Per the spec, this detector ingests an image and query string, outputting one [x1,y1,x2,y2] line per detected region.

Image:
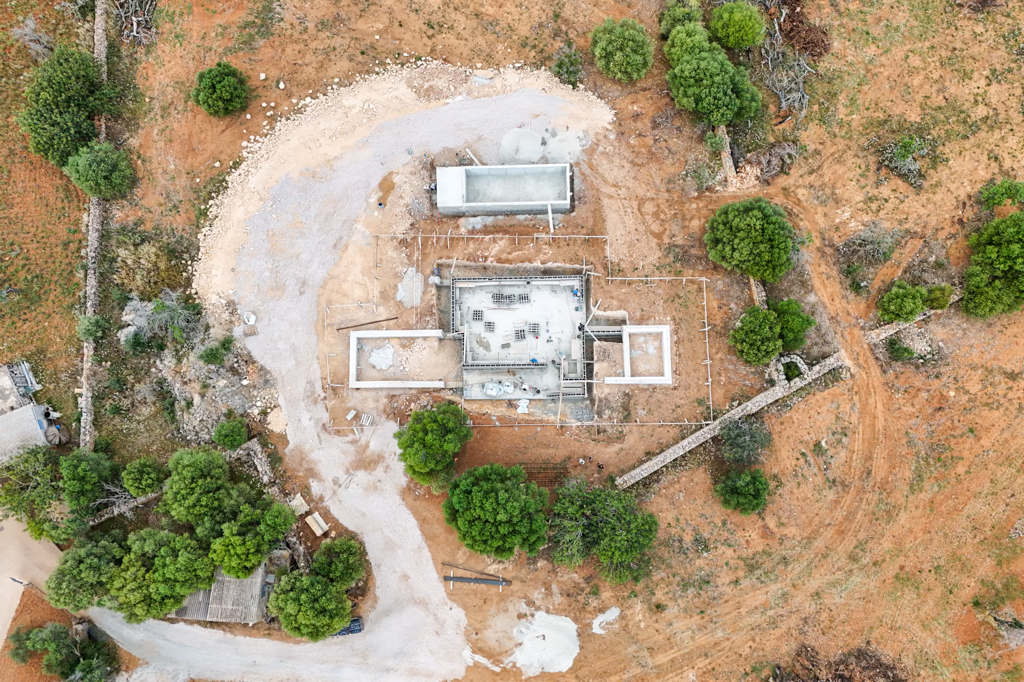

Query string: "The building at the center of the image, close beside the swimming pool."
[451,275,624,401]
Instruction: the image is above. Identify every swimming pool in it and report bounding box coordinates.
[436,163,575,213]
